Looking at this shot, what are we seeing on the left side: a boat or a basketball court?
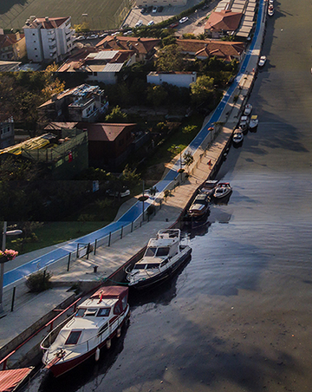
boat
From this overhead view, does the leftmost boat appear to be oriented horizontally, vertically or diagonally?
diagonally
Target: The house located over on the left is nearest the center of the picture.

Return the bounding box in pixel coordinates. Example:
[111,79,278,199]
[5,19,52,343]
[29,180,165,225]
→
[77,123,136,165]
